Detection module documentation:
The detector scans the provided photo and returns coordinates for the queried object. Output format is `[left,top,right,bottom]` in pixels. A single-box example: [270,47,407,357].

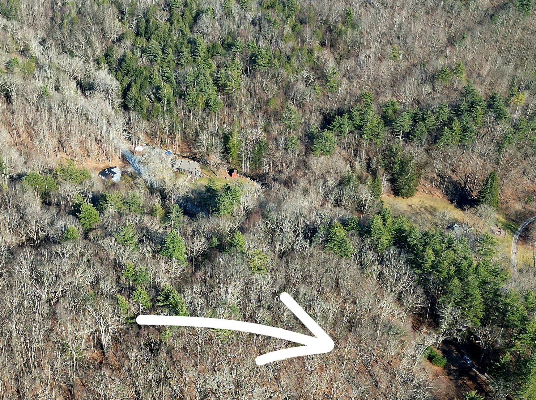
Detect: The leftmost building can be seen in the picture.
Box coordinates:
[97,160,122,183]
